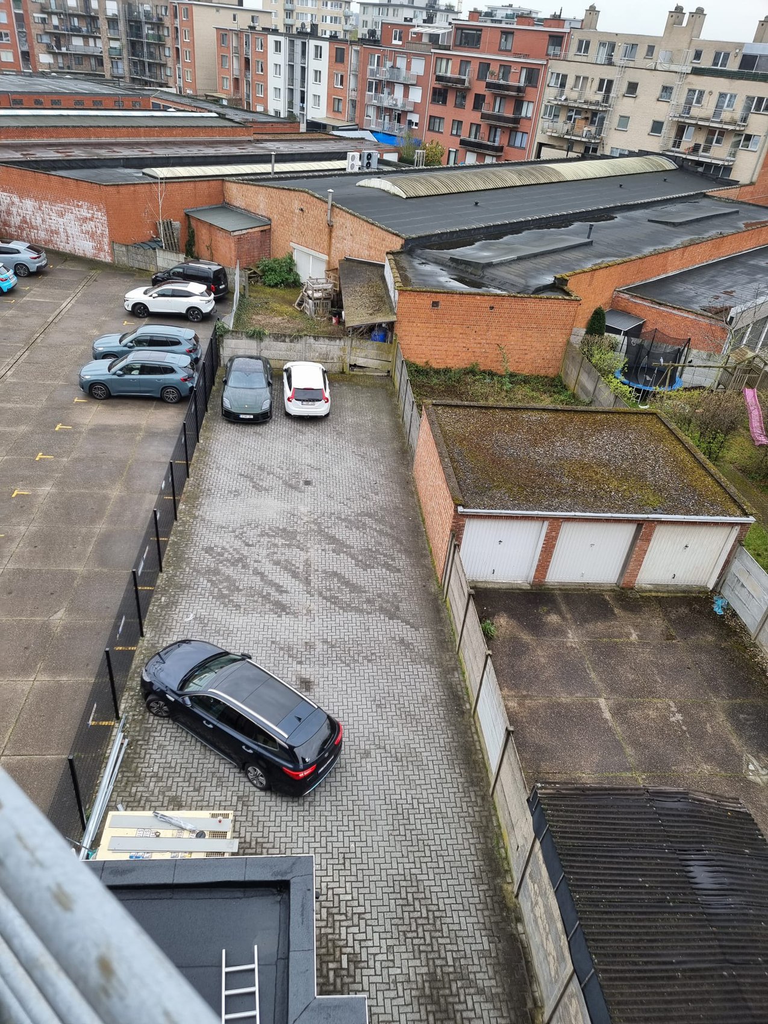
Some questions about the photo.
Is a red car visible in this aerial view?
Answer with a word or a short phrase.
No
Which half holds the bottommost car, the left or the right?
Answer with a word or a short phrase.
left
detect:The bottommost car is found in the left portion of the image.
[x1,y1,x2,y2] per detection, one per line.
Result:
[139,640,347,800]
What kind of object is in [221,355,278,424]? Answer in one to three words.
car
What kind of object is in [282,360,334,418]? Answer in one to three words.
car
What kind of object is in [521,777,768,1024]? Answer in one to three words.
shed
